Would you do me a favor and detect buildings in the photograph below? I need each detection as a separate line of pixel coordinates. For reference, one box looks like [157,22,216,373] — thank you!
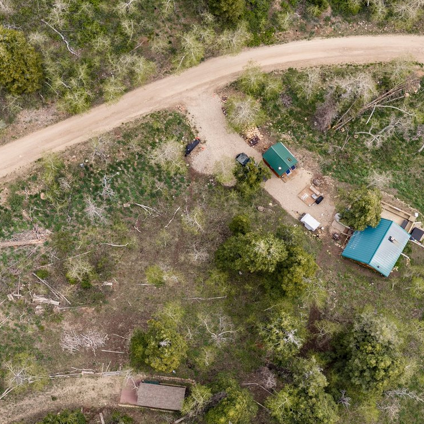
[339,215,411,279]
[137,382,187,411]
[262,140,299,179]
